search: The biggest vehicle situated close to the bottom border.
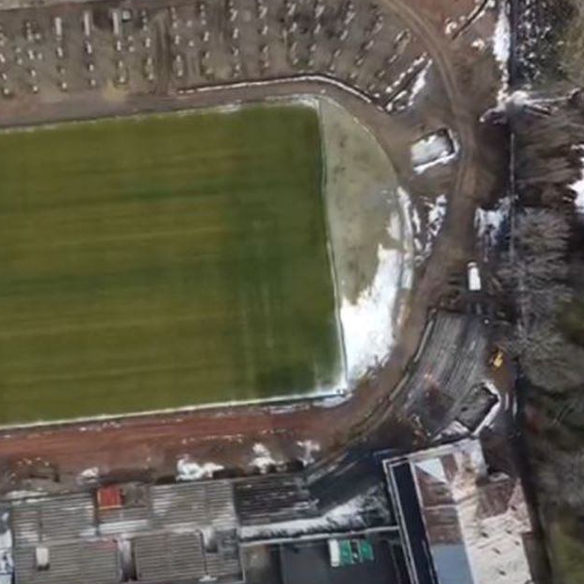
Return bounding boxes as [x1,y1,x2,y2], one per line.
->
[329,541,342,565]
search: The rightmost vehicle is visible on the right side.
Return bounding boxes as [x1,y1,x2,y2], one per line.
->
[490,342,508,364]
